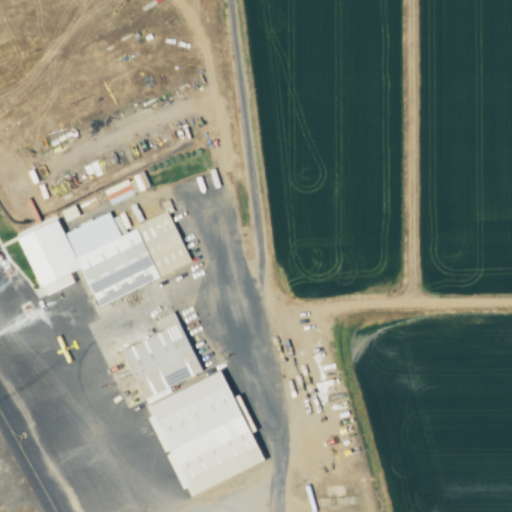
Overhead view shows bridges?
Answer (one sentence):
No, I find no bridge anywhere in the image.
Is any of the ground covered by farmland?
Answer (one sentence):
Yes, there is farmland in the image.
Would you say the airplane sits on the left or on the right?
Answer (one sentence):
You can find the airplane on the left side of the picture.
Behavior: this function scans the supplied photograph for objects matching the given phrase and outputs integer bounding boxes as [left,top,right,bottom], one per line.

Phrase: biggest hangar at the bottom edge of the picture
[145,368,267,500]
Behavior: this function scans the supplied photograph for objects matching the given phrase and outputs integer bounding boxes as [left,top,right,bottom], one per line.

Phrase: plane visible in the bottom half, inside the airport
[56,336,77,364]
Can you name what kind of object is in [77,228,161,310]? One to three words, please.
hangar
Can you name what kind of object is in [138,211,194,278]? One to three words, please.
hangar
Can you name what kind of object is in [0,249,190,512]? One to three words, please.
airport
